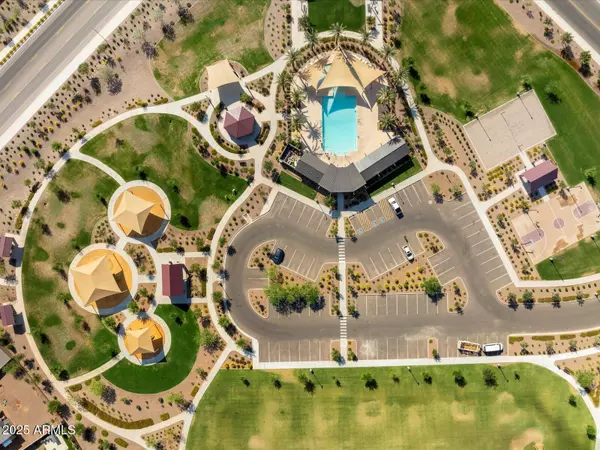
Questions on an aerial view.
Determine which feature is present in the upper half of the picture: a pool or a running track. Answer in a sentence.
The one visible in the upper half of the picture is a pool.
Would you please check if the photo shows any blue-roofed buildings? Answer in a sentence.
No, there is no blue-roofed building in the image.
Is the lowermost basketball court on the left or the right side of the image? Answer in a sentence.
It is on the right.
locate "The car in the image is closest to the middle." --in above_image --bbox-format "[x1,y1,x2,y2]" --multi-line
[271,247,284,265]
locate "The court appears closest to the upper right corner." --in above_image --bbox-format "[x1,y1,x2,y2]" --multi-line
[463,89,558,171]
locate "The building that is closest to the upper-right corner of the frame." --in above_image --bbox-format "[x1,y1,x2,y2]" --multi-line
[519,161,559,192]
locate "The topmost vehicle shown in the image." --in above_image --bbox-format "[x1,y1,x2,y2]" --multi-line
[390,196,405,216]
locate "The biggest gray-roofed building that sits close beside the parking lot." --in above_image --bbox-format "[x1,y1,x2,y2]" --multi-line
[281,137,409,192]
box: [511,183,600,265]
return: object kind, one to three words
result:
basketball court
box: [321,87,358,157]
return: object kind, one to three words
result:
swimming pool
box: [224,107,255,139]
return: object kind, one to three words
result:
building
